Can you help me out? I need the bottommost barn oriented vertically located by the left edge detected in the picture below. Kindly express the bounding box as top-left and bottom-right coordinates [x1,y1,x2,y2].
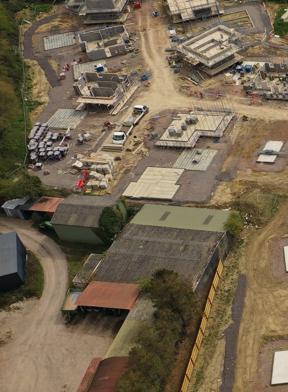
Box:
[0,228,33,298]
